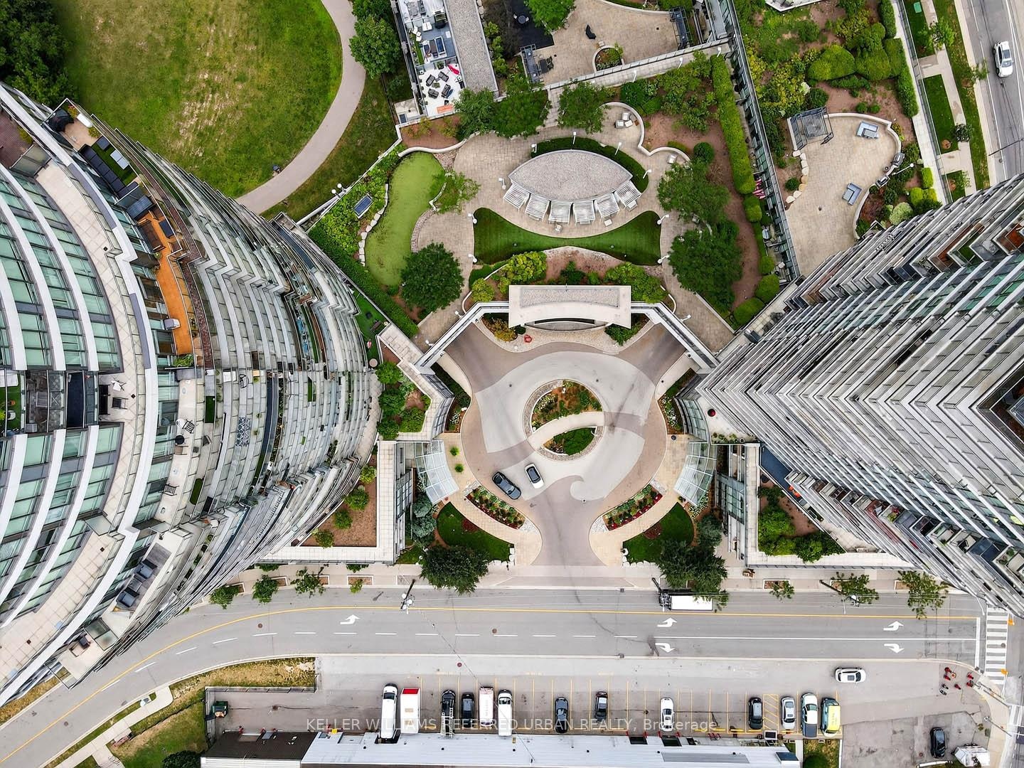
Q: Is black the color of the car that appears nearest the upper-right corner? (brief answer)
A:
No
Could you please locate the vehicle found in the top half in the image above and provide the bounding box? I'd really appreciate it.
[992,40,1014,79]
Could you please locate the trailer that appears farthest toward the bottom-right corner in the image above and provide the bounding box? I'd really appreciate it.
[946,743,994,768]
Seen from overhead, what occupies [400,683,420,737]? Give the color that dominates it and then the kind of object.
white vehicle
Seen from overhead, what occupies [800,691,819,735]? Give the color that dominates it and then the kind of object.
white vehicle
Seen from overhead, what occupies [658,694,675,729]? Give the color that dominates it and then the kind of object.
white car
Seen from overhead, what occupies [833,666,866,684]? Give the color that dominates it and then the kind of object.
white car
